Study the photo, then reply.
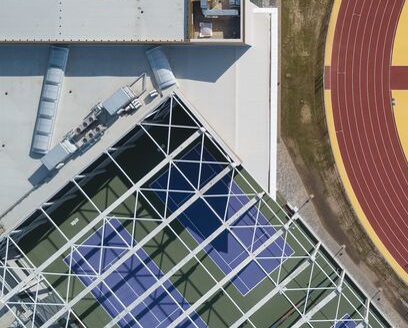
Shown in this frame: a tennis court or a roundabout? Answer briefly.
tennis court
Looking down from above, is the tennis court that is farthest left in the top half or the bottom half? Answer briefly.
bottom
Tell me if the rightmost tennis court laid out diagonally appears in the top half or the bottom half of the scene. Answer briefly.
bottom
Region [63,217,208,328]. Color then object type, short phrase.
blue tennis court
